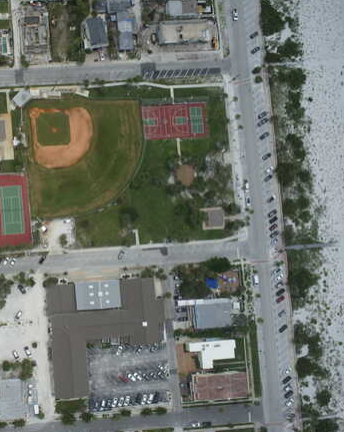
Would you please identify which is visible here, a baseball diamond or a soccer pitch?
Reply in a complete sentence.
The one in the frame is a baseball diamond.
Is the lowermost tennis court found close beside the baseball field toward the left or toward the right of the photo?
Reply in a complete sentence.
You can find the lowermost tennis court found close beside the baseball field on the left side of the picture.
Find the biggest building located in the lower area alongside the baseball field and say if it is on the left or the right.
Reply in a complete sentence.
The biggest building located in the lower area alongside the baseball field is on the left side of the image.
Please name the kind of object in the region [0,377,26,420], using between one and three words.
building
